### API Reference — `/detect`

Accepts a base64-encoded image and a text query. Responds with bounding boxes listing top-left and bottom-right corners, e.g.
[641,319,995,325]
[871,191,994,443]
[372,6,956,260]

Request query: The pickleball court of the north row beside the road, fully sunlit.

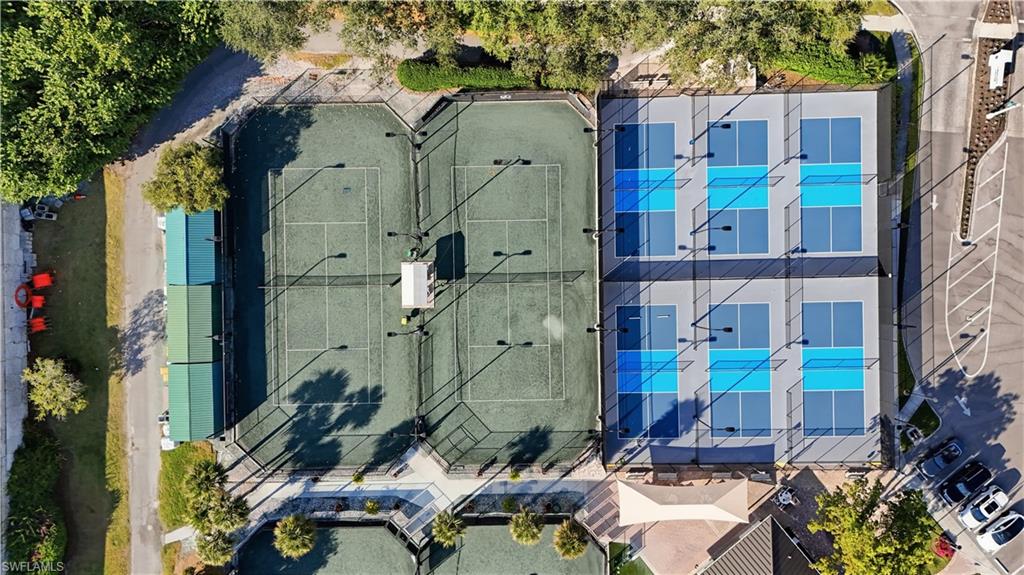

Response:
[797,117,871,252]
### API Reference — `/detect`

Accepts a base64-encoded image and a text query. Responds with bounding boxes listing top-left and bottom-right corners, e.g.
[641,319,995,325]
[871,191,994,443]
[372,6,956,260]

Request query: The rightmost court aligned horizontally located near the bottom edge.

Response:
[422,528,606,575]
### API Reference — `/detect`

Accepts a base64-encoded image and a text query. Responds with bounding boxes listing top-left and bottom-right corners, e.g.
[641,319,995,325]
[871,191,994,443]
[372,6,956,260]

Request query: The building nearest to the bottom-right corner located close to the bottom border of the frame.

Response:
[682,515,818,575]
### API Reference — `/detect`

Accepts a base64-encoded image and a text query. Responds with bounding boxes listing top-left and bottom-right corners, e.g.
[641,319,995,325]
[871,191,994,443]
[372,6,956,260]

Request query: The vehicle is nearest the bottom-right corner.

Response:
[977,507,1024,551]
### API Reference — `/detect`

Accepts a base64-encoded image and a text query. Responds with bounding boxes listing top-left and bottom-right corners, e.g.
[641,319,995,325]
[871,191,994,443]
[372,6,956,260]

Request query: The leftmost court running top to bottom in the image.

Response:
[233,103,418,469]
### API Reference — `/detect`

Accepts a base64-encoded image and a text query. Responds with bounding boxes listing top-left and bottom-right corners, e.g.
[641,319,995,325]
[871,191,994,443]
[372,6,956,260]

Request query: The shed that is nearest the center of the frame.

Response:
[401,262,434,308]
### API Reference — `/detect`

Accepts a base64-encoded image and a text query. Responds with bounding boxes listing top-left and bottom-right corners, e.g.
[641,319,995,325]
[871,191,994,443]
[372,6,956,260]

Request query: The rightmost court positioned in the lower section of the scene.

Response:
[799,302,873,436]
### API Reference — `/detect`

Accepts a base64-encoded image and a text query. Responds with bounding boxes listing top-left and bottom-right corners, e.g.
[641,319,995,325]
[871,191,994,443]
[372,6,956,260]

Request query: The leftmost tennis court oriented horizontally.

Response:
[237,519,418,575]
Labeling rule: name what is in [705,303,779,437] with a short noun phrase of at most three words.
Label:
sports court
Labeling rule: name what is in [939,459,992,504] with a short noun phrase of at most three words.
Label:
car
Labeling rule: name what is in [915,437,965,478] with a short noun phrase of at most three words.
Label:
car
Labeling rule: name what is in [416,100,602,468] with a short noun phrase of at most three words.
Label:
tennis court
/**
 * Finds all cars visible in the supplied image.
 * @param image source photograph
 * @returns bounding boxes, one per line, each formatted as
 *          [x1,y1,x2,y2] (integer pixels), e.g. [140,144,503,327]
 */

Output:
[915,437,965,478]
[977,507,1024,551]
[958,486,1009,529]
[939,459,992,504]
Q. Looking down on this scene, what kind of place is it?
sports ground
